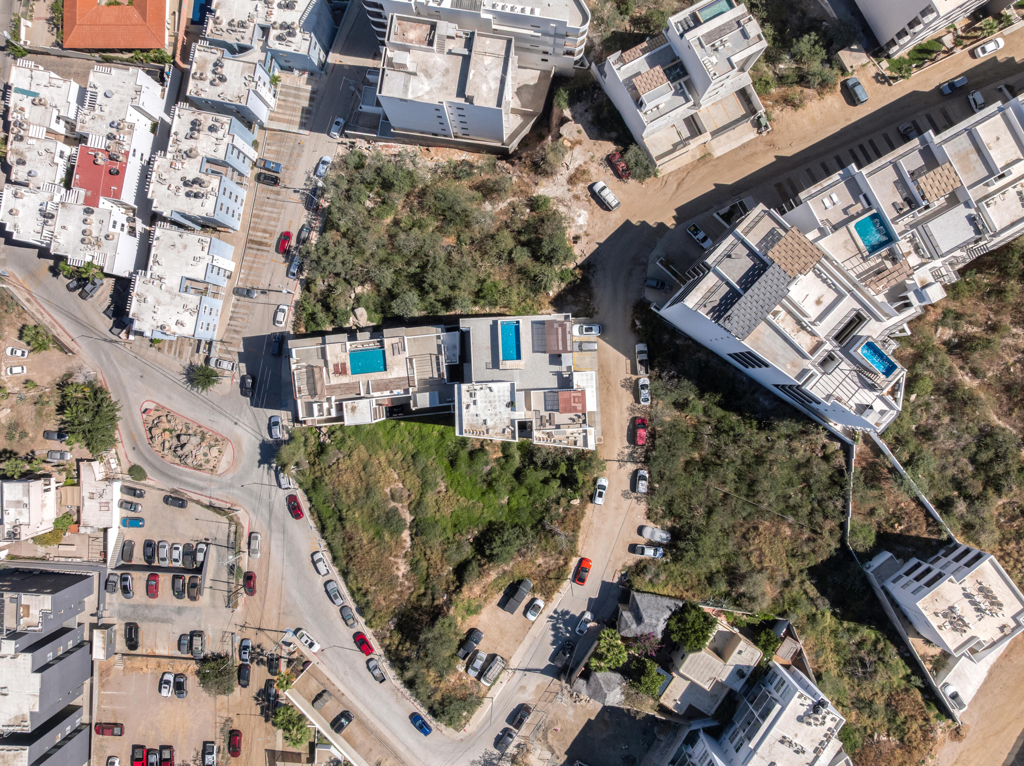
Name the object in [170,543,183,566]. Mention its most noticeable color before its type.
white vehicle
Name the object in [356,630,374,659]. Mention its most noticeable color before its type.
red car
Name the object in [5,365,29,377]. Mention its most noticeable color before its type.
white vehicle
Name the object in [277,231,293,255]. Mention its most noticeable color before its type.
red car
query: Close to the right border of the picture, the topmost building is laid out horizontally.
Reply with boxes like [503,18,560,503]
[868,0,989,58]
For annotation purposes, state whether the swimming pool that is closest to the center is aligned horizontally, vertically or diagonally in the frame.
vertically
